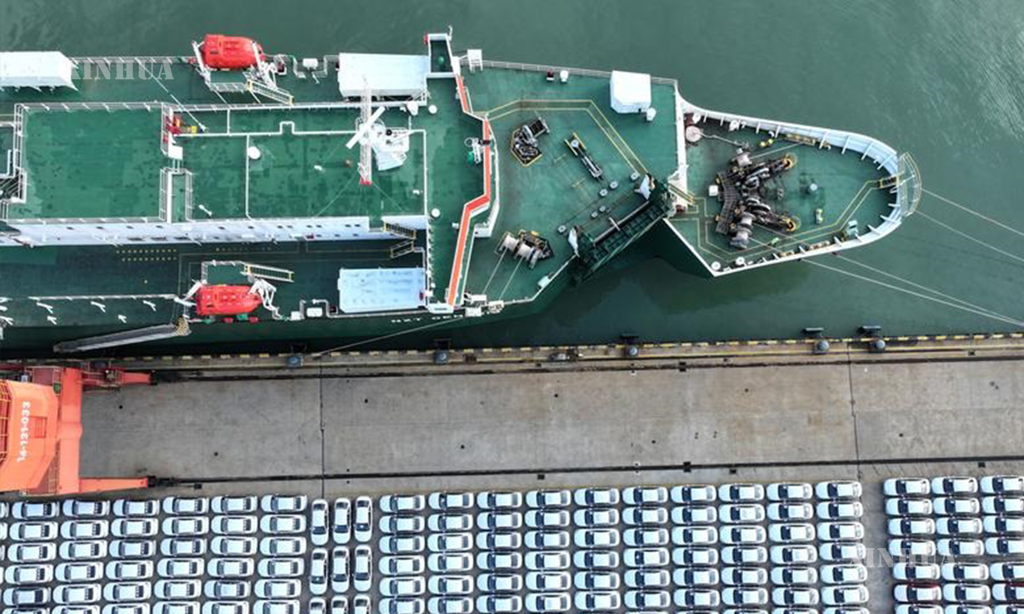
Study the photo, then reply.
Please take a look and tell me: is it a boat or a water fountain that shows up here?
boat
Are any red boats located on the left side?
Yes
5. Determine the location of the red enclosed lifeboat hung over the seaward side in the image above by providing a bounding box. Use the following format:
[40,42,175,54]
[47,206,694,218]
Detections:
[203,37,267,70]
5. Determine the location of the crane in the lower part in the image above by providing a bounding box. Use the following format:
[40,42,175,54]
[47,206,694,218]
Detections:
[0,365,162,496]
